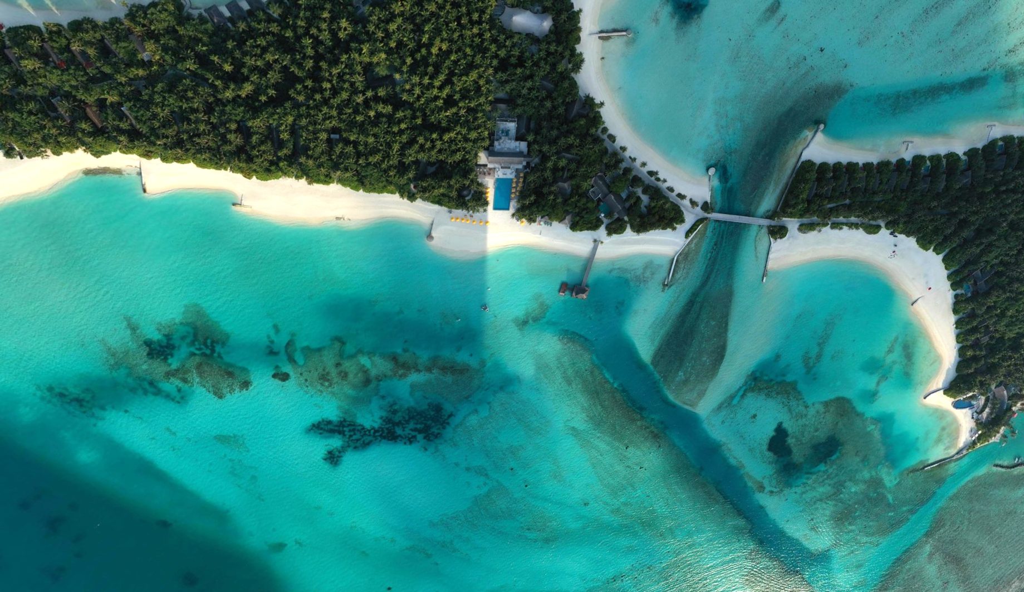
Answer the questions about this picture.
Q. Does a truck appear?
No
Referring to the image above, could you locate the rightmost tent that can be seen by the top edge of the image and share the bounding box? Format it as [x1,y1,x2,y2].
[499,6,554,40]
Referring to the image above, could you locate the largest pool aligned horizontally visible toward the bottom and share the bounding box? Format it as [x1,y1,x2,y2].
[954,396,979,408]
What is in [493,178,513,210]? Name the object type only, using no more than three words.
swimming pool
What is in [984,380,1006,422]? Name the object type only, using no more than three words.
building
